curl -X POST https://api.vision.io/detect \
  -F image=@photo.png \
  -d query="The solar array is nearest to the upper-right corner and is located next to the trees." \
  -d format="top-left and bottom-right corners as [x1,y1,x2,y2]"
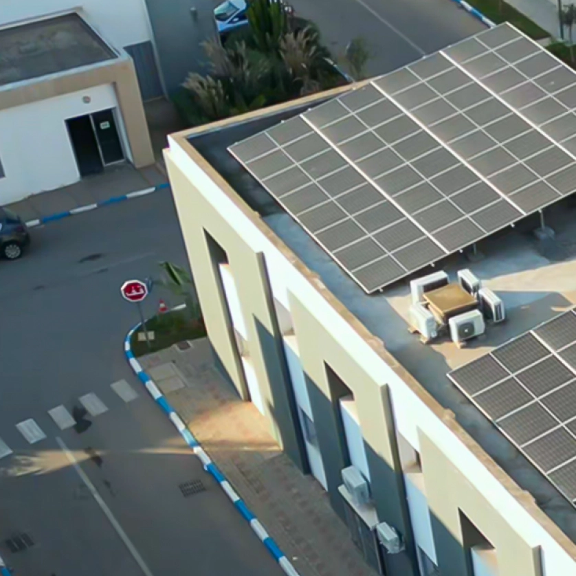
[230,24,576,292]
